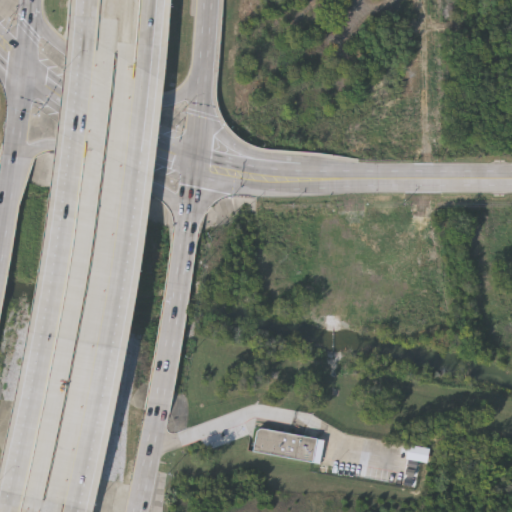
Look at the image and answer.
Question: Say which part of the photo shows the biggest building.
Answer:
bottom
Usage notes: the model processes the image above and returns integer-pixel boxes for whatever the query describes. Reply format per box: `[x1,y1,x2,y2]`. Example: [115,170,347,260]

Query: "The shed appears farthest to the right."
[406,445,430,464]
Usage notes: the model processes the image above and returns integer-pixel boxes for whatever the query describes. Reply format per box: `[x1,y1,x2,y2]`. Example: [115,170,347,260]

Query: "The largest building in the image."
[253,428,324,464]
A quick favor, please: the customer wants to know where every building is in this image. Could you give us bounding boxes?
[253,428,324,464]
[406,445,430,464]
